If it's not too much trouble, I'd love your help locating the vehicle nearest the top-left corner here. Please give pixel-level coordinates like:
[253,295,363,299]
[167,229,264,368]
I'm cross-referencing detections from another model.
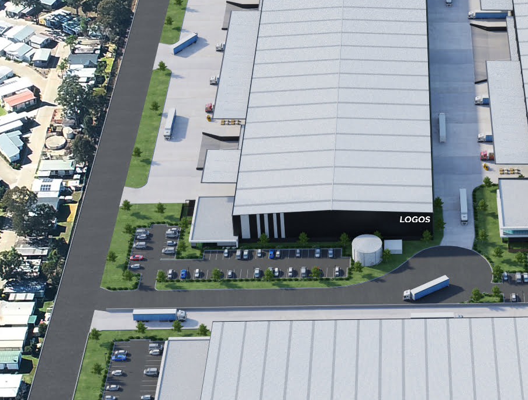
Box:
[173,31,201,52]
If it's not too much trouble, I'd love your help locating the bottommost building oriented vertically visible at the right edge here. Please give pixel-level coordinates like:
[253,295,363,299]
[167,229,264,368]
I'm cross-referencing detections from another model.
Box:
[496,178,528,250]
